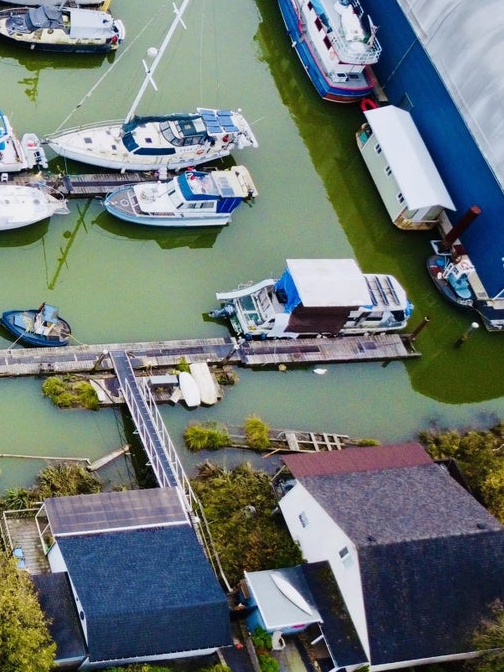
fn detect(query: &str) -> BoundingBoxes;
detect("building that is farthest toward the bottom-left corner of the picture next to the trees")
[4,485,227,672]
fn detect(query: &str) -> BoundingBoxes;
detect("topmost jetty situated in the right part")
[240,333,413,369]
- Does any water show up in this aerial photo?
Yes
